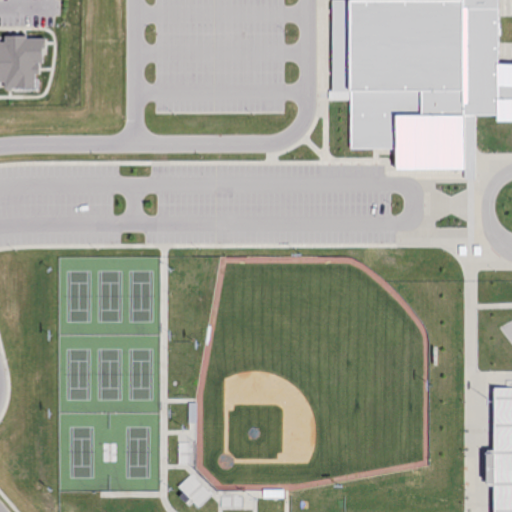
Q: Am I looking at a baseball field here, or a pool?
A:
baseball field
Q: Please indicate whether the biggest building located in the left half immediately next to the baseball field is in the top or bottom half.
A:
bottom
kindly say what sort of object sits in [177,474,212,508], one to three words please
building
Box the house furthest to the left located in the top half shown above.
[0,37,45,92]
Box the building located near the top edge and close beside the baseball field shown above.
[329,0,512,172]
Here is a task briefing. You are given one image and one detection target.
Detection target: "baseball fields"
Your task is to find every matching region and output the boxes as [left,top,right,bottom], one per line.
[196,257,429,490]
